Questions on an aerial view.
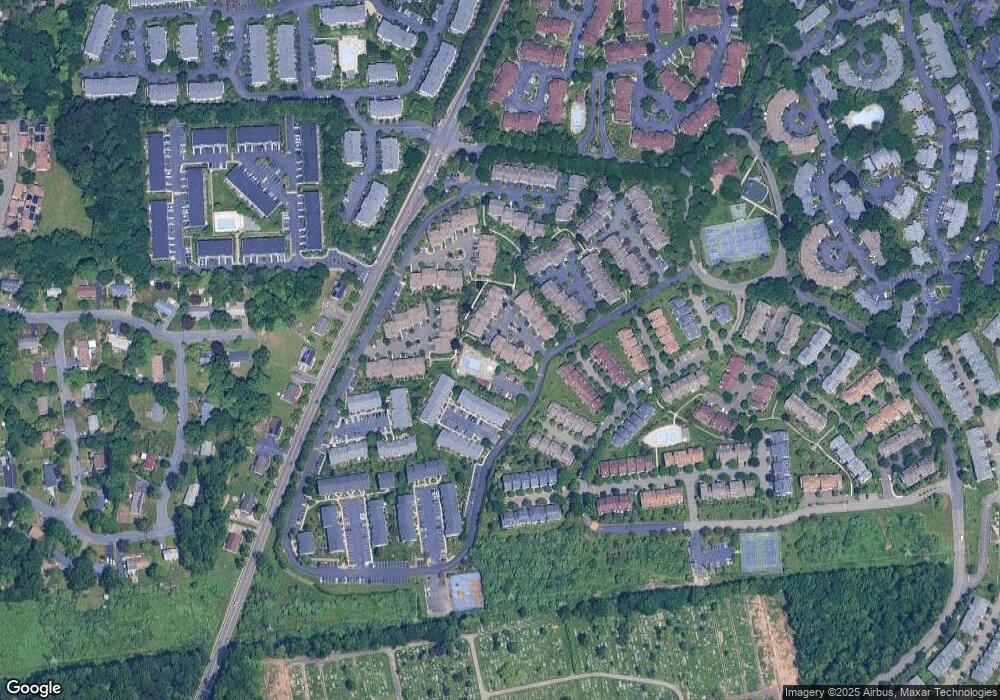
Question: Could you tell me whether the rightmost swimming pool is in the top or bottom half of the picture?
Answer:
top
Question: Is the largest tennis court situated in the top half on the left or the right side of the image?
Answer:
right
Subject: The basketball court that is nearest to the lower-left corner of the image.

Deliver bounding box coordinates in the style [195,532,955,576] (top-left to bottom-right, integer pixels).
[450,571,484,612]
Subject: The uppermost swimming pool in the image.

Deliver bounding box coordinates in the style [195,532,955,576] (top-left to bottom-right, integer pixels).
[339,35,366,71]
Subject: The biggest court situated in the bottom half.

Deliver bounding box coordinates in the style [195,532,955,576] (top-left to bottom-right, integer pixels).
[739,531,782,574]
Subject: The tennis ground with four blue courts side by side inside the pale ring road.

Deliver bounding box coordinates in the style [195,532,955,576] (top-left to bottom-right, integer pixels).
[700,216,774,266]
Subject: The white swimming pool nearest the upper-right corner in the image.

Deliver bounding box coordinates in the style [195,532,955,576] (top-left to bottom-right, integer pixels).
[843,103,885,129]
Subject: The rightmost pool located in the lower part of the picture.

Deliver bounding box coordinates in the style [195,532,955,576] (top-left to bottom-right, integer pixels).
[645,425,683,447]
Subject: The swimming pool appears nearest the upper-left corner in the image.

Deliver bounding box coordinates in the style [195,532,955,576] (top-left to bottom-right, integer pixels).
[213,211,243,232]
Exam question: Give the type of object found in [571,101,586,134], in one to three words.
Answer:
swimming pool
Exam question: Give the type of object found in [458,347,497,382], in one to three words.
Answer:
swimming pool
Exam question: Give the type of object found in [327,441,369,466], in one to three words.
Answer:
building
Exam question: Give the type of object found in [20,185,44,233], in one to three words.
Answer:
house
